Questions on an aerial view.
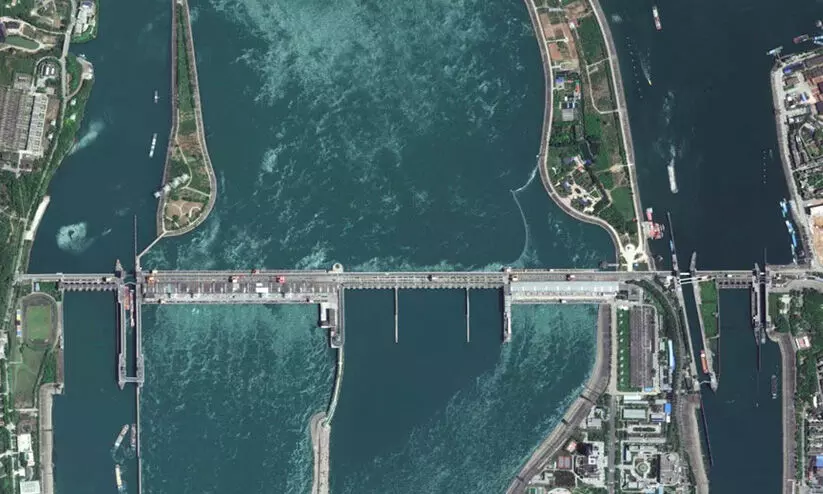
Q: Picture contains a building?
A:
Yes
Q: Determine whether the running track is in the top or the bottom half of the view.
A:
bottom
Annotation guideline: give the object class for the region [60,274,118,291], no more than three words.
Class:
dam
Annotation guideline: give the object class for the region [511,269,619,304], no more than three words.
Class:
building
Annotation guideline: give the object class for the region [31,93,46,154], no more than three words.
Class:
building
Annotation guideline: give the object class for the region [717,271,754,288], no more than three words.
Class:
dam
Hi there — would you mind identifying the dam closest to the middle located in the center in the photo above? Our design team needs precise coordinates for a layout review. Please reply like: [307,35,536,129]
[341,271,506,289]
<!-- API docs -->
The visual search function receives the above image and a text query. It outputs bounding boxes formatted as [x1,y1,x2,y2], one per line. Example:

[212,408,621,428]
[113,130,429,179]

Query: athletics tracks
[21,291,58,356]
